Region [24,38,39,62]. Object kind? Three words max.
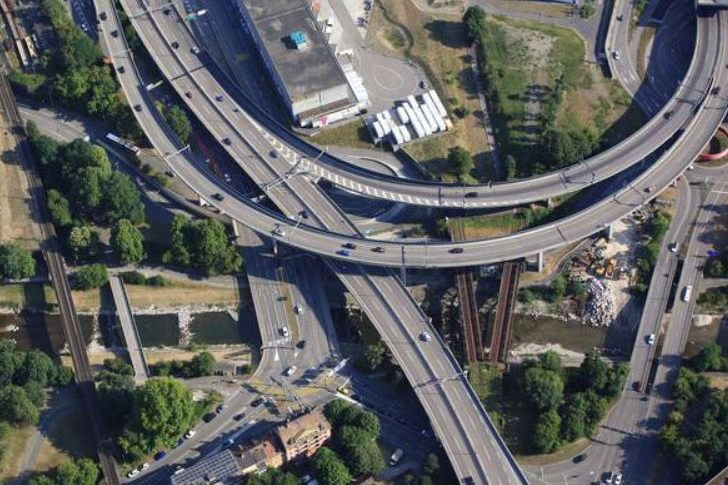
rail car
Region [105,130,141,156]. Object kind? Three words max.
bus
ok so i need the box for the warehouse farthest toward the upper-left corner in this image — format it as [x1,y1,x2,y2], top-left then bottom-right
[229,0,371,129]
